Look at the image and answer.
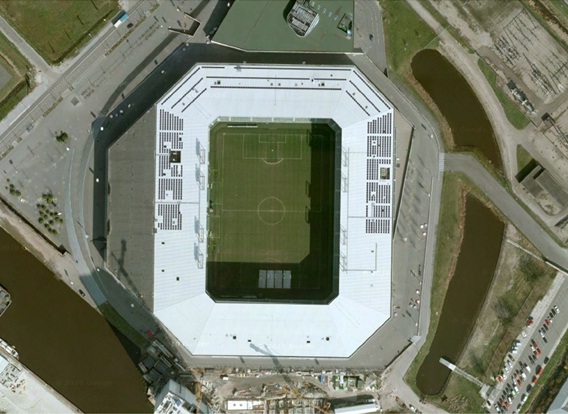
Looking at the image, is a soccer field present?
Yes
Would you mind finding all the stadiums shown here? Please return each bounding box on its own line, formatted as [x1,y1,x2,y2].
[105,64,395,358]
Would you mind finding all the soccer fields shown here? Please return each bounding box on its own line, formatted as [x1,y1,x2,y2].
[209,123,335,297]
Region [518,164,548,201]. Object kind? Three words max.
shed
